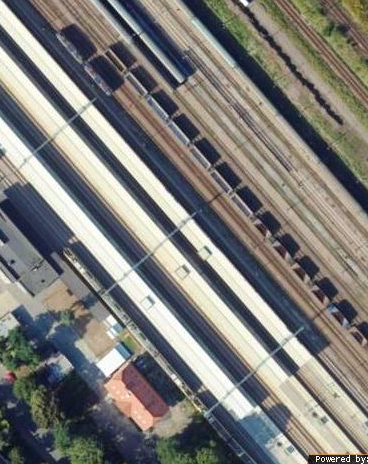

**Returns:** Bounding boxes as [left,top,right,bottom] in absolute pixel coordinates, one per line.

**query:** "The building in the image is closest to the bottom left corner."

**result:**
[42,354,75,379]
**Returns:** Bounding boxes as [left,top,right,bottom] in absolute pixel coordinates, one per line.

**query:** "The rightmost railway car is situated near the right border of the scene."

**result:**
[350,326,368,349]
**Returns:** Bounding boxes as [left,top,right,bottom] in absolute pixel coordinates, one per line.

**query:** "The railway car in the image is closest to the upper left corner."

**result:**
[61,35,89,66]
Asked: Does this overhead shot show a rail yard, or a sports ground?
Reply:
rail yard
